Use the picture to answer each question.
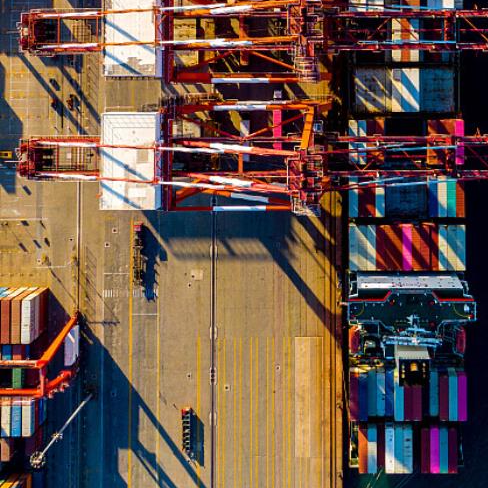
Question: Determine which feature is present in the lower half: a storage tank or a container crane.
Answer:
container crane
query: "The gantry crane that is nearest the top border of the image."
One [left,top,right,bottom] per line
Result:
[5,0,488,92]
